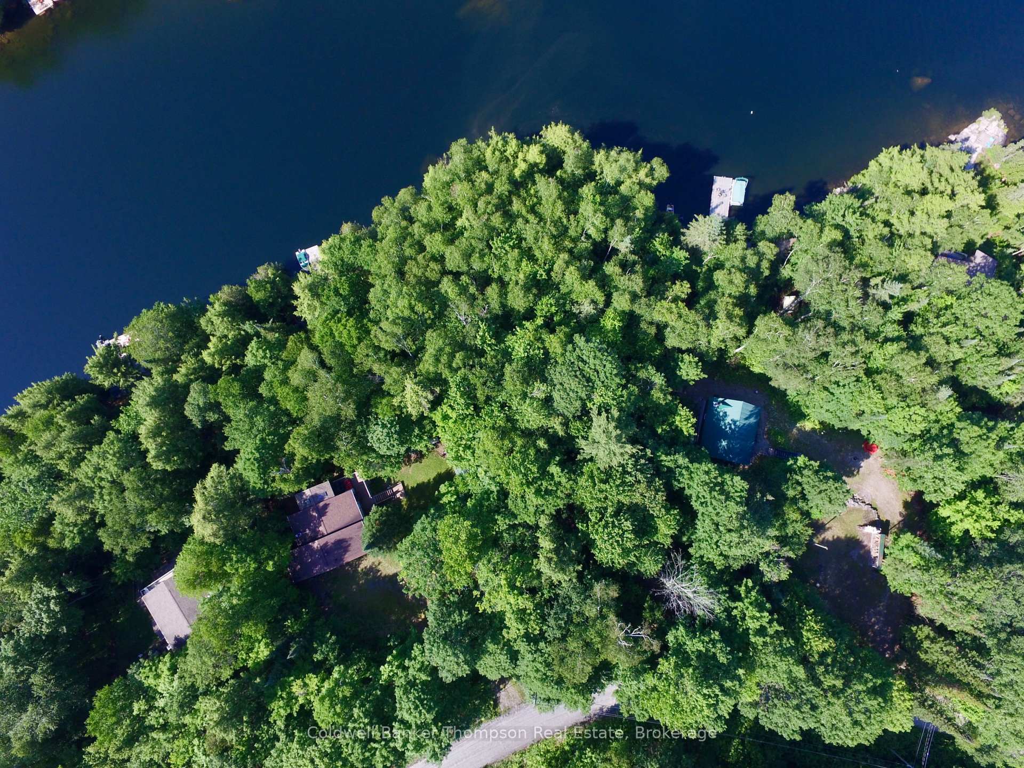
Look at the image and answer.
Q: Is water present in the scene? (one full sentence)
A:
Yes, water can be seen from above here.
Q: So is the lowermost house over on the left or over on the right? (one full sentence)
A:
The lowermost house sits on the left side.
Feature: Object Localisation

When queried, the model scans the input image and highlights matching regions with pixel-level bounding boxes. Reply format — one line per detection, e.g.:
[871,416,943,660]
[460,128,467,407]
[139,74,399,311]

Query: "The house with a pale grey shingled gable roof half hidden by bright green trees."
[136,573,206,649]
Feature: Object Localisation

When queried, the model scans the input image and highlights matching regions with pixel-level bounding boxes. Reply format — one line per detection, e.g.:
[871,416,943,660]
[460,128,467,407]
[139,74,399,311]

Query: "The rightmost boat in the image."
[730,174,753,207]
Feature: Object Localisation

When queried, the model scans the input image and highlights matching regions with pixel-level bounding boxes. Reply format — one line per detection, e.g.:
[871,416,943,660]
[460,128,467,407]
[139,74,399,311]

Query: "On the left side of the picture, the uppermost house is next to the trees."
[288,474,406,582]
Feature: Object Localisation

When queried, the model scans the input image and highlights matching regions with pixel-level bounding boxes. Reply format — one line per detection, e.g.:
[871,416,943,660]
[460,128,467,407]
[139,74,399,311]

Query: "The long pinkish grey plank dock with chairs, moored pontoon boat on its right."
[709,176,733,226]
